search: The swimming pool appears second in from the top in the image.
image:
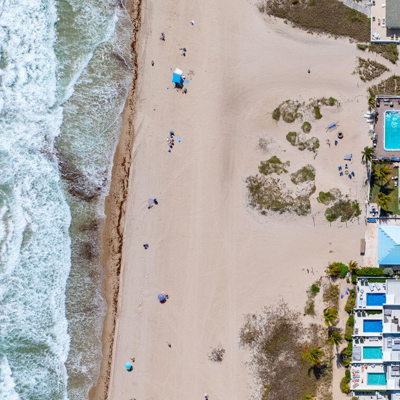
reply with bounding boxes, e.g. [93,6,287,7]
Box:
[366,292,386,307]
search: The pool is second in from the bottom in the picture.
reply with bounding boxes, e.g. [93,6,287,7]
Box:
[362,346,383,360]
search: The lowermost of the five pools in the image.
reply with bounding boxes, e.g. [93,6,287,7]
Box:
[366,372,387,386]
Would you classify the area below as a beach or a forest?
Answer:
beach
